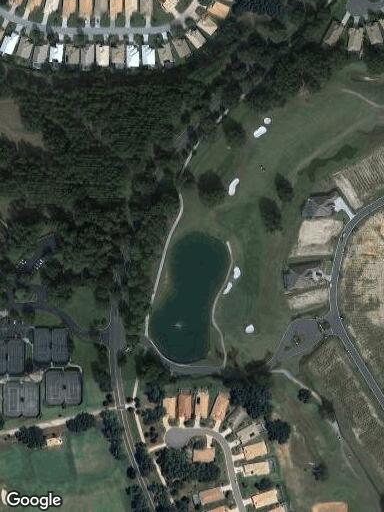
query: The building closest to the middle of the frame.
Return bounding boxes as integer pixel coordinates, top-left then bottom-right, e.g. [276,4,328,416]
[282,264,319,291]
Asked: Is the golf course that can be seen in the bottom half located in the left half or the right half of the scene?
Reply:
left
